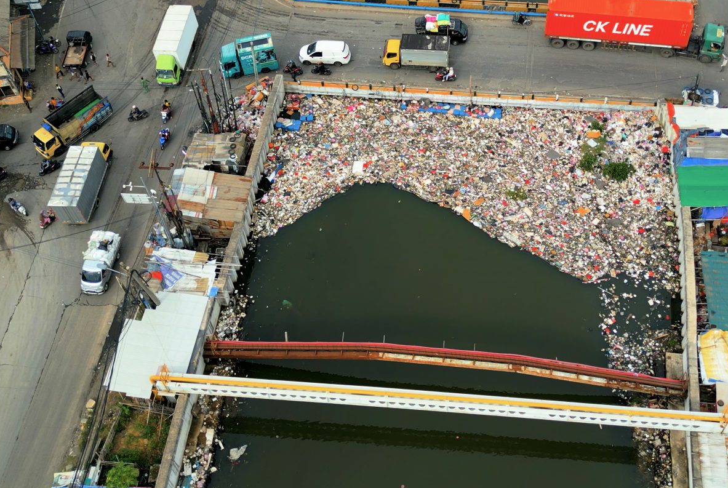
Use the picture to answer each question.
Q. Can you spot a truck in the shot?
Yes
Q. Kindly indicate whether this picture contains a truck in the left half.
Yes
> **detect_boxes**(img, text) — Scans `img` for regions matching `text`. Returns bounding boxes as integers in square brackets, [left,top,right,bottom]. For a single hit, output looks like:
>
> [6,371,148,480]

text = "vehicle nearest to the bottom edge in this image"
[75,230,121,296]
